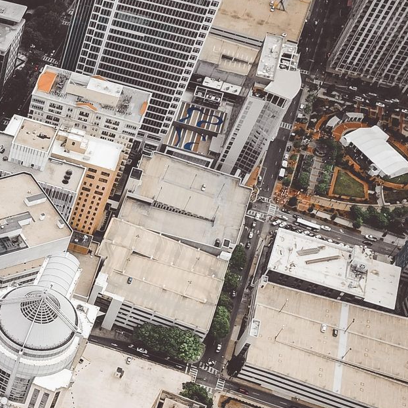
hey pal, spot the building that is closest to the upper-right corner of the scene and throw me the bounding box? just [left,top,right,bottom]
[329,0,408,92]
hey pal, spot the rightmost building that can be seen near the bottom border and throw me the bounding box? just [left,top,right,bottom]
[235,267,408,408]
